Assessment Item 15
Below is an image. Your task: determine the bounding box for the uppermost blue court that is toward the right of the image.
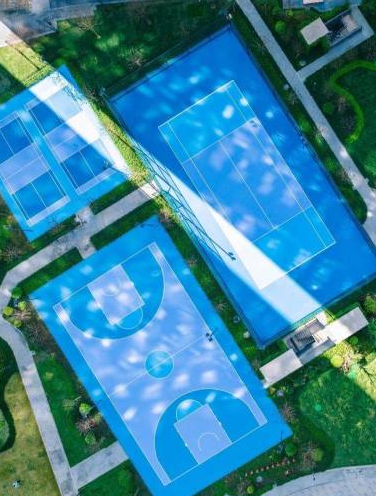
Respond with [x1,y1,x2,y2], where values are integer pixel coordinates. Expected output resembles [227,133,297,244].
[111,24,376,347]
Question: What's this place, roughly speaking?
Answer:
sports ground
